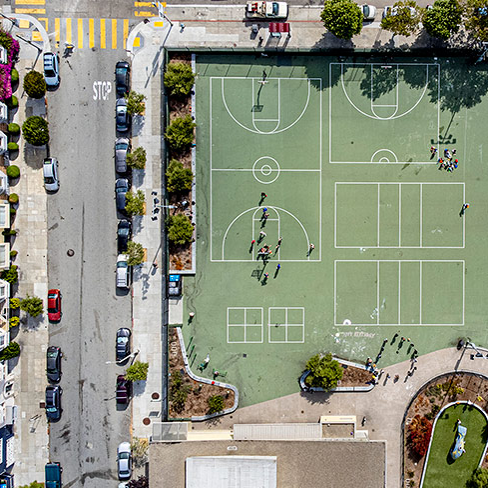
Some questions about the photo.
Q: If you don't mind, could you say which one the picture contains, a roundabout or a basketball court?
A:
basketball court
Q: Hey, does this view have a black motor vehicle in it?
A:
Yes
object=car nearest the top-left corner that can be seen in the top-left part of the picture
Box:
[43,53,60,89]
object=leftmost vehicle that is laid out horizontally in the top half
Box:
[245,0,288,20]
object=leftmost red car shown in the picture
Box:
[46,288,63,321]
